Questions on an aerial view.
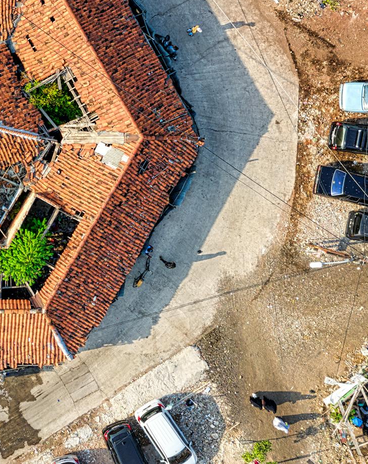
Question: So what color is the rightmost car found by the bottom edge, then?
white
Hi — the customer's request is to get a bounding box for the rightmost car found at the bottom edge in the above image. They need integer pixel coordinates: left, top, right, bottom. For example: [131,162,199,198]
[133,387,193,464]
